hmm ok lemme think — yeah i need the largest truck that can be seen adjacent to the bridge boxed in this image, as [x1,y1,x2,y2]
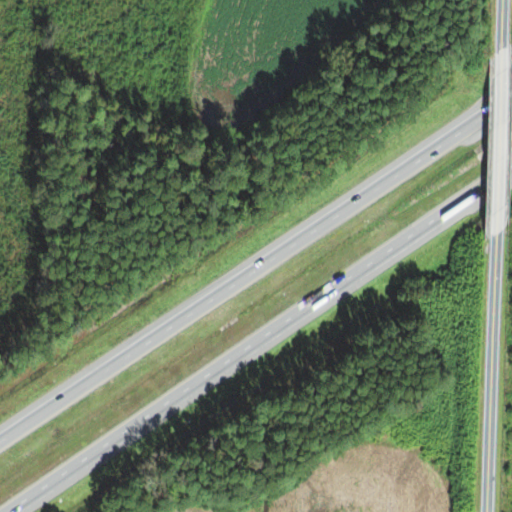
[441,194,480,222]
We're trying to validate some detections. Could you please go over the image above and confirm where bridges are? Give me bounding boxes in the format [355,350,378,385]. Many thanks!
[484,44,512,242]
